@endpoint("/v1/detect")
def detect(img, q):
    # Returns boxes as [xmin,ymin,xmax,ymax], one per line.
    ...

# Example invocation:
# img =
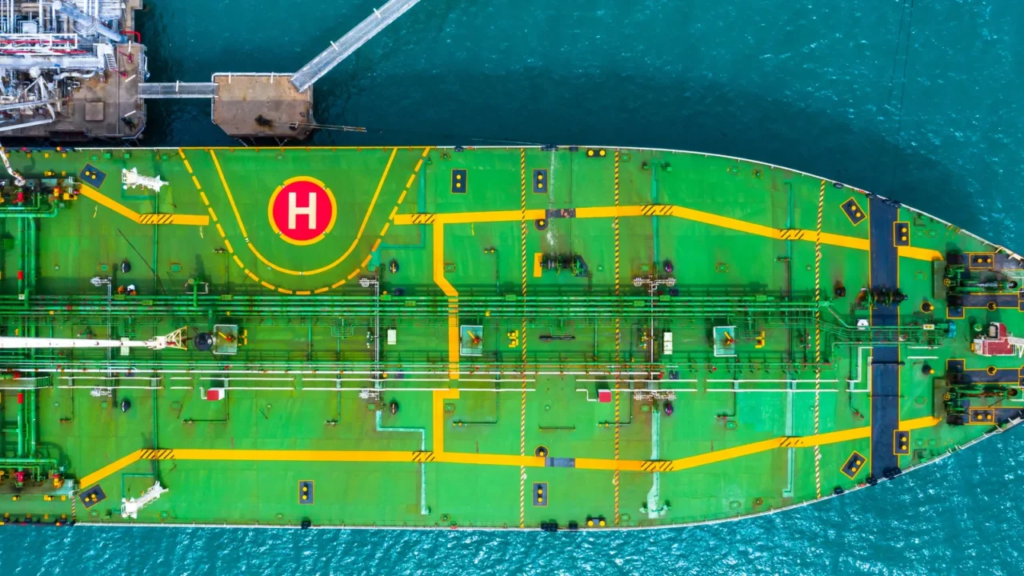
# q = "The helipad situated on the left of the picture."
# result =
[179,149,426,294]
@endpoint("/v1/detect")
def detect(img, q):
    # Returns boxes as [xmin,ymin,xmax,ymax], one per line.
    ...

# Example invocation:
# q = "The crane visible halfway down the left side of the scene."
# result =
[0,326,187,350]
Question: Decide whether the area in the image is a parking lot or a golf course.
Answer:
parking lot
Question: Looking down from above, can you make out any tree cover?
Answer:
No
